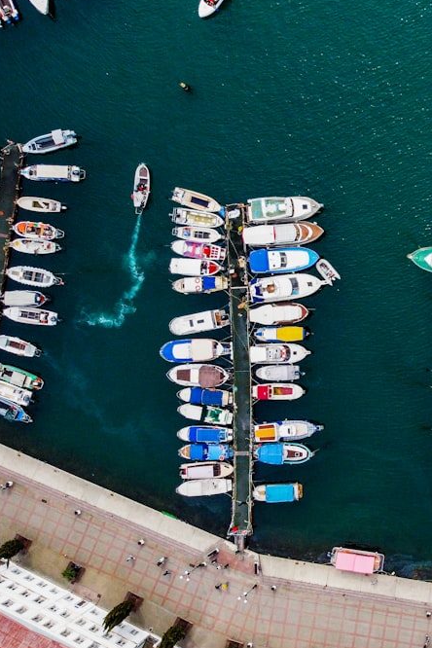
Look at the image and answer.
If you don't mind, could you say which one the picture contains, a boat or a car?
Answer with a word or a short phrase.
boat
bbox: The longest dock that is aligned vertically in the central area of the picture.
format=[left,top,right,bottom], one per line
[224,204,257,534]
